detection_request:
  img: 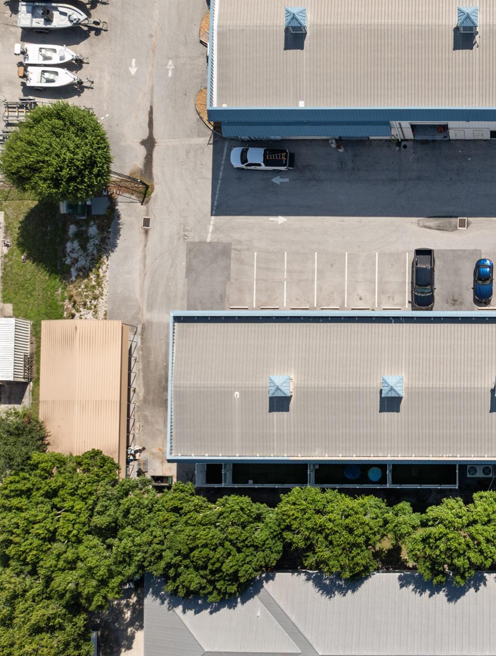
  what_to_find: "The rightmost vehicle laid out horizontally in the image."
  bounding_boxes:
[229,142,297,171]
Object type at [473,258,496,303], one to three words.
car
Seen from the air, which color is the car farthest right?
blue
